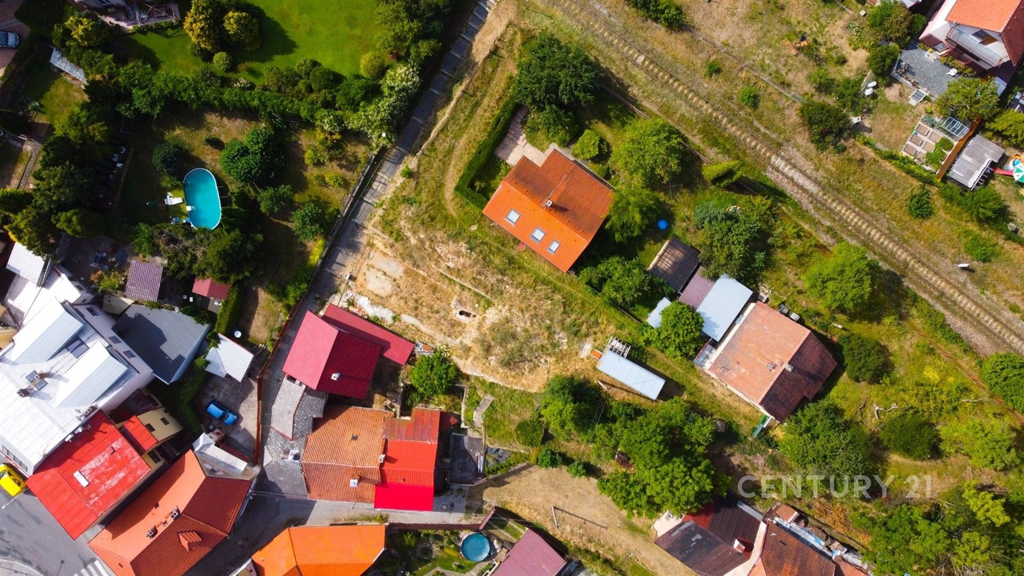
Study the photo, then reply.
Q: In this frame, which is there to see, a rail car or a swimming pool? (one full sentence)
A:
I can see a swimming pool in this picture.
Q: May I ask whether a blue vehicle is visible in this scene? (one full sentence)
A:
Yes, there's a blue vehicle here.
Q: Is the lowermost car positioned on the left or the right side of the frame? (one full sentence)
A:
It is on the left.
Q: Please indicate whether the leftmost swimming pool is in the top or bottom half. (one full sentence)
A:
Seen from above, the leftmost swimming pool lies in the top half of the view.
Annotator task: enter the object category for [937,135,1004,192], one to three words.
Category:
building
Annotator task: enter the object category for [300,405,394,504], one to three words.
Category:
house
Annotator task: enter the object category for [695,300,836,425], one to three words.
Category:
house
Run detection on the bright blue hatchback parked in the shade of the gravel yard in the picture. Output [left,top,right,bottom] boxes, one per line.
[201,401,237,426]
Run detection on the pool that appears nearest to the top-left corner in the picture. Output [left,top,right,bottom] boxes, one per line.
[184,168,233,228]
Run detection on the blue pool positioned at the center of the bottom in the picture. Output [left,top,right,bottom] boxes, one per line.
[461,532,490,562]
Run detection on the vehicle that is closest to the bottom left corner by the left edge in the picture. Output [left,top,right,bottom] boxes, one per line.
[0,462,22,499]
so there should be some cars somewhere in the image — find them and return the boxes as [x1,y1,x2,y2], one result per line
[0,26,18,48]
[201,401,237,426]
[0,462,22,499]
